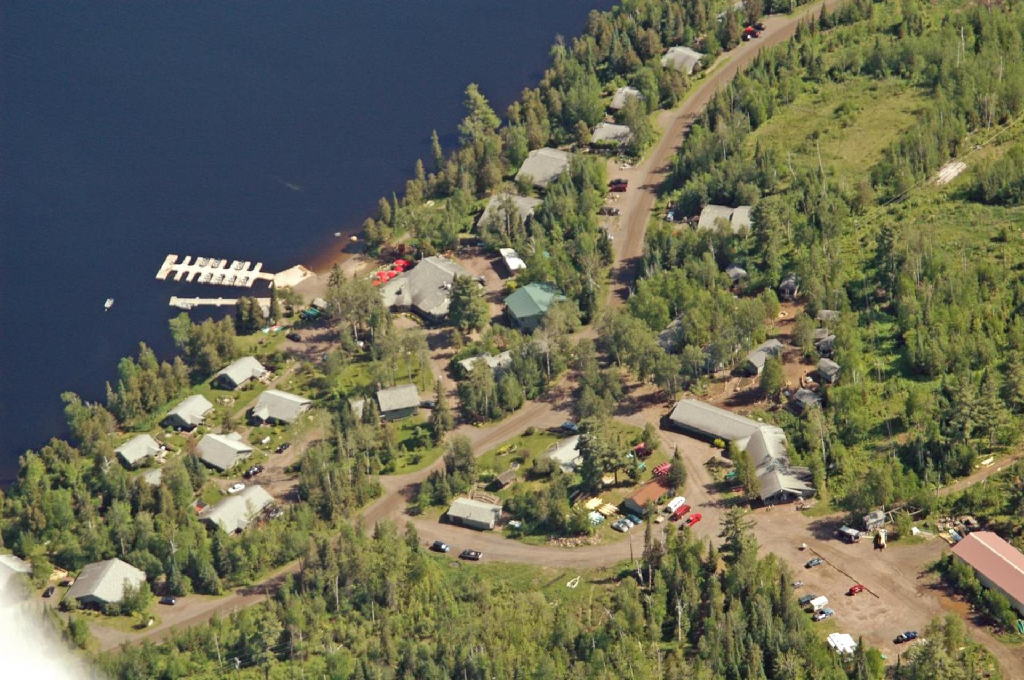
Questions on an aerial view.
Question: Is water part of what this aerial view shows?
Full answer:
Yes, water can be seen from above here.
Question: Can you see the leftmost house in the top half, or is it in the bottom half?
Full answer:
It is in the bottom half that the leftmost house appears.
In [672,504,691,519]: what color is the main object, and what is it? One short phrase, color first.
red vehicle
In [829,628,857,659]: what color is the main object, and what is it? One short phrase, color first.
white vehicle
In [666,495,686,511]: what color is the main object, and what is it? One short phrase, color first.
white vehicle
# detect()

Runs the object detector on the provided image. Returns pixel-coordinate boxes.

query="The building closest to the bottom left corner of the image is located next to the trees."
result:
[0,556,37,600]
